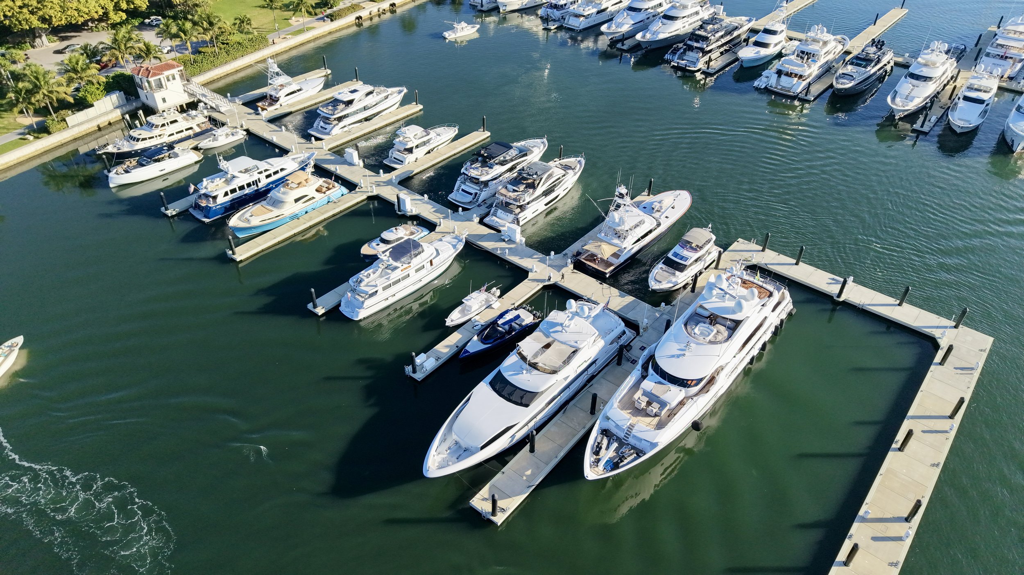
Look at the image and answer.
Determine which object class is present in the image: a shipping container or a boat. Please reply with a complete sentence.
I can see a boat in this picture.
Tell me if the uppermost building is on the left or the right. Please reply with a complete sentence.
The uppermost building sits on the left side.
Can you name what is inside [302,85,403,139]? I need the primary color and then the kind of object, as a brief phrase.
white boat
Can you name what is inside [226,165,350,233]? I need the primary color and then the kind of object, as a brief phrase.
white boat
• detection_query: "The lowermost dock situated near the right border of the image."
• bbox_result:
[829,339,987,575]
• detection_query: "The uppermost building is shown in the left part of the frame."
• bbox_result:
[129,60,200,112]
